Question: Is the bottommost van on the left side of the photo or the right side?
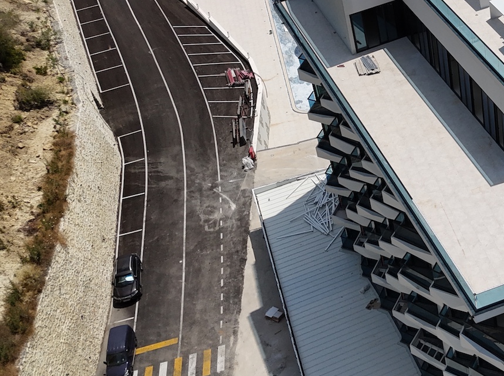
left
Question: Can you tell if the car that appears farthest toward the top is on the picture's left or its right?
left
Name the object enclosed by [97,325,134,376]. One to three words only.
van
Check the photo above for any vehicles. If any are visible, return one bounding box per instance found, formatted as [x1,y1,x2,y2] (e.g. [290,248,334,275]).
[97,325,134,376]
[108,252,142,305]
